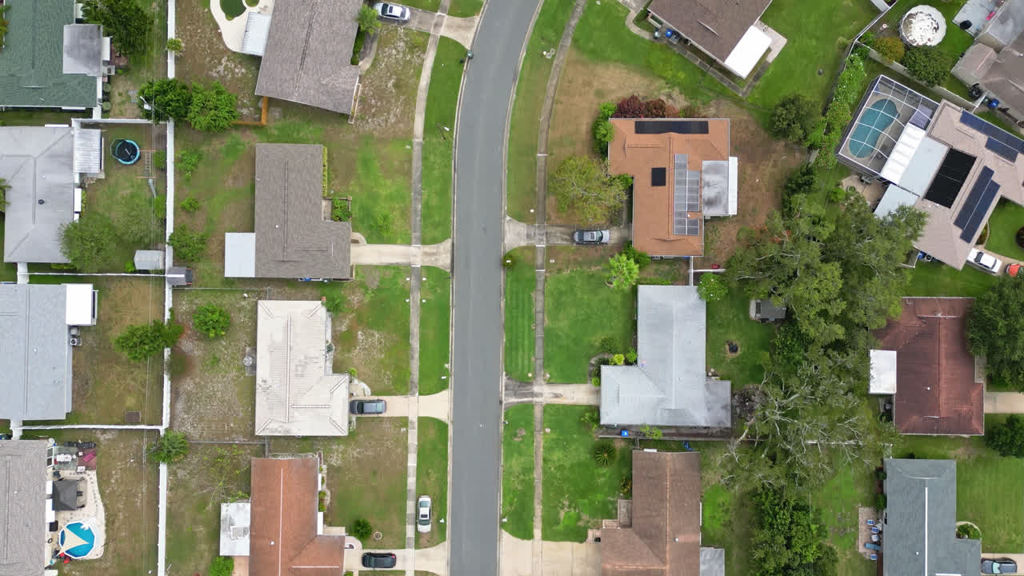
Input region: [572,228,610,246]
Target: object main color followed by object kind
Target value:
gray car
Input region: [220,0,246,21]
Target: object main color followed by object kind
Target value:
green swimming pool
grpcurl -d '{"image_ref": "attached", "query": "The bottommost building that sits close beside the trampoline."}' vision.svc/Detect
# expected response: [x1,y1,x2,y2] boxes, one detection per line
[0,126,107,263]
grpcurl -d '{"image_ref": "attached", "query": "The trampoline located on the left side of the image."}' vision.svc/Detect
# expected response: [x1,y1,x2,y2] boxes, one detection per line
[107,136,144,166]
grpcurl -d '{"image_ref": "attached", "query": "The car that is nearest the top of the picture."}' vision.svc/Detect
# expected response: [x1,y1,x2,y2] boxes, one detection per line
[375,3,411,23]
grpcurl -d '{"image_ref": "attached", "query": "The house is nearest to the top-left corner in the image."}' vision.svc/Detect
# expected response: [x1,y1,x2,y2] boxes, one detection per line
[0,0,111,109]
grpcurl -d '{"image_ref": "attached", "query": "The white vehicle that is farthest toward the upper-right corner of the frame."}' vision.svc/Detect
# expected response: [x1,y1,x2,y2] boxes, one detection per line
[966,247,1004,274]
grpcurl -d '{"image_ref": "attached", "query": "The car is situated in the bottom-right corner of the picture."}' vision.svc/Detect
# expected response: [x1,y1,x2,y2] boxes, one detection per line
[981,556,1018,575]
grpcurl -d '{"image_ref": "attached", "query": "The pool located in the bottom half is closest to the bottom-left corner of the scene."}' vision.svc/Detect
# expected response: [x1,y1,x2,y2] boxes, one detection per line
[60,520,98,557]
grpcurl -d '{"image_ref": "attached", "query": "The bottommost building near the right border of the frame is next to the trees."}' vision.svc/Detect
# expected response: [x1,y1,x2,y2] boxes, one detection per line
[876,457,981,576]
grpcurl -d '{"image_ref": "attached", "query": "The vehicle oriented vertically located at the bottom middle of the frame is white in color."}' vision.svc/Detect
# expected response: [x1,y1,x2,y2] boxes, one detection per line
[416,493,433,531]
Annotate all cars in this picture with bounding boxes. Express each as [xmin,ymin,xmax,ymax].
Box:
[981,556,1018,575]
[350,398,387,415]
[572,228,610,246]
[416,493,433,531]
[966,247,1004,274]
[375,3,411,23]
[1002,262,1024,280]
[361,549,398,569]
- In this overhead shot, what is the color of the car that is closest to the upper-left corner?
white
